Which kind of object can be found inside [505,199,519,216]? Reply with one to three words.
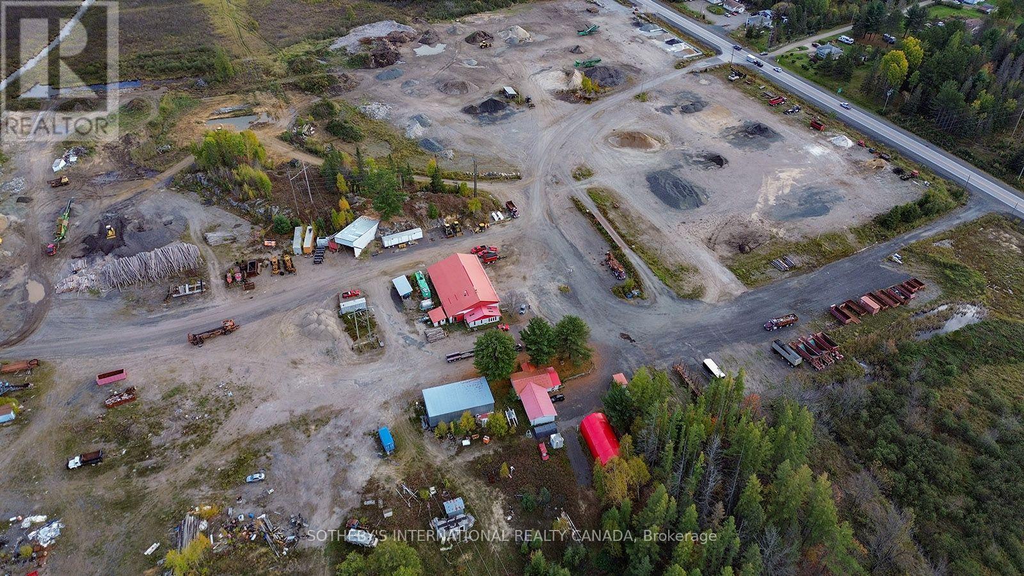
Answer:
vehicle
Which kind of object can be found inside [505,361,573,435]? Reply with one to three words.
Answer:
house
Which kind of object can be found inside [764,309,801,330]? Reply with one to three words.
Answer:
truck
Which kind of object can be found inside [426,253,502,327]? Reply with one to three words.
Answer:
building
